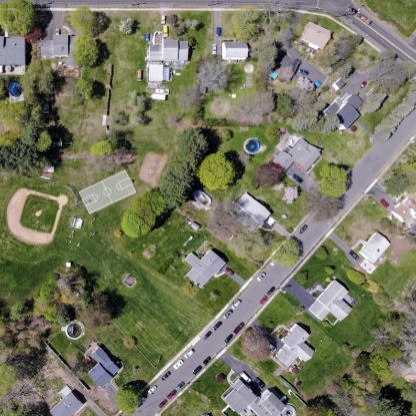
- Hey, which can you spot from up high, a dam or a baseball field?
baseball field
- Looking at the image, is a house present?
Yes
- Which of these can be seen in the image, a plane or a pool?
pool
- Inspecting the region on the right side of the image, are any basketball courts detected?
No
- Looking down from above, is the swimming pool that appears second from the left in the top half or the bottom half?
bottom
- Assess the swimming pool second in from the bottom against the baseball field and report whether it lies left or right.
on the right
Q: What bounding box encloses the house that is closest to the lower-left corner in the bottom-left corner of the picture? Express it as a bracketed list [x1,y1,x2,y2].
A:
[51,385,88,416]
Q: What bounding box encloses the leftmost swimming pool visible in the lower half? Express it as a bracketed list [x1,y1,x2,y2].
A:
[61,321,85,342]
